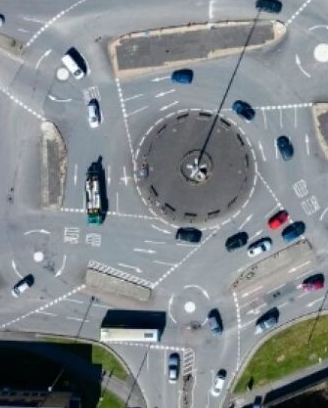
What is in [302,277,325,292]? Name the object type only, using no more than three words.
car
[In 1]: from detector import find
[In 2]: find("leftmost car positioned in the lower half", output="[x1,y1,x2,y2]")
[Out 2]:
[12,277,34,297]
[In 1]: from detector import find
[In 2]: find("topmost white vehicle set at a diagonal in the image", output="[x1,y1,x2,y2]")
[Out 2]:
[59,51,86,79]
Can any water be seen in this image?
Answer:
No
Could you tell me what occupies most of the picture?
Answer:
paved ground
